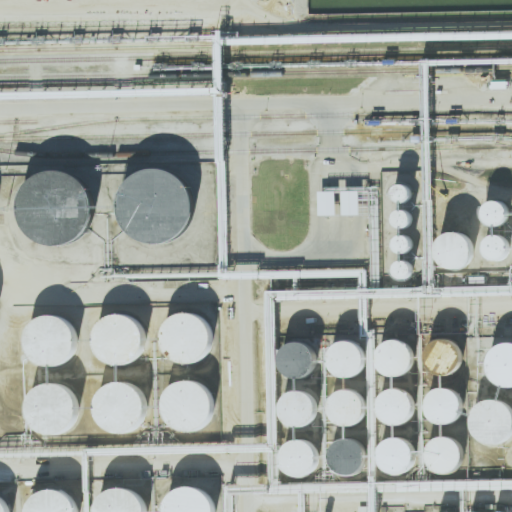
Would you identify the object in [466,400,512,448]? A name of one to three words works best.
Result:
storage tank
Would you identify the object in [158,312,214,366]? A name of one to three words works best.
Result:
storage tank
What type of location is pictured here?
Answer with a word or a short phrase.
industrial area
